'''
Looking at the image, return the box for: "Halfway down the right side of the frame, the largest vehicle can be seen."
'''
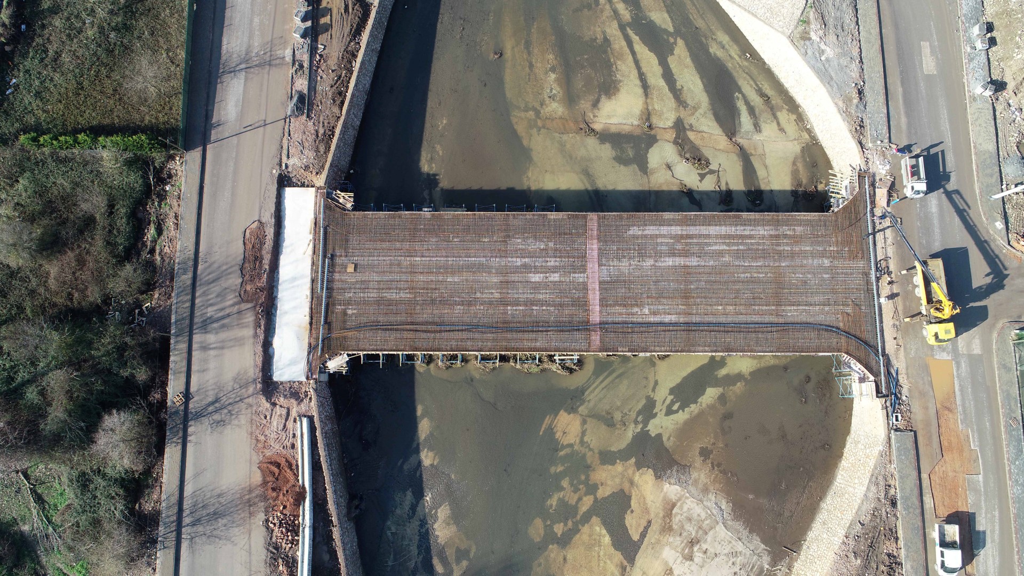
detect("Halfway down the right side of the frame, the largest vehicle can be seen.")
[870,206,963,349]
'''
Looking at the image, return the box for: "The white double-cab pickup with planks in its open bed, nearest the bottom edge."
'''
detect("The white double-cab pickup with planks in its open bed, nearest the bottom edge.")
[931,522,966,576]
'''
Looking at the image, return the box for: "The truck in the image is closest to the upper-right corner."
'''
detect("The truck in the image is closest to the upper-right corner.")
[894,153,932,202]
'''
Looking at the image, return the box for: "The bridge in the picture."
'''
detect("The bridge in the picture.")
[308,171,891,398]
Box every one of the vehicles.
[894,153,932,202]
[931,522,966,576]
[870,206,963,349]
